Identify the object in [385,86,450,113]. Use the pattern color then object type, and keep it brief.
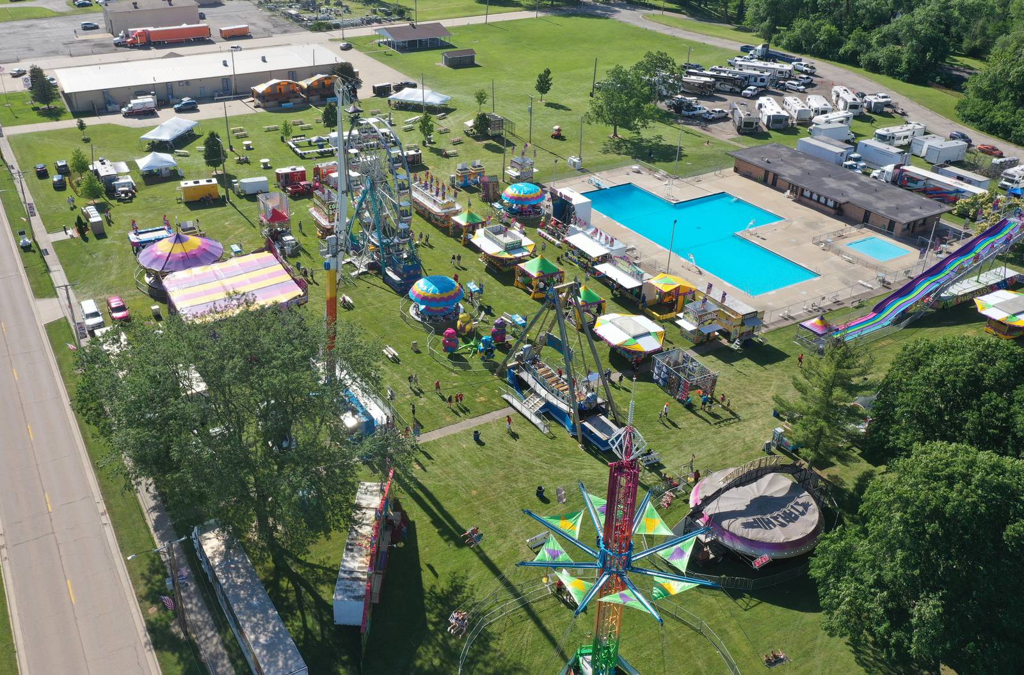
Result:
white tent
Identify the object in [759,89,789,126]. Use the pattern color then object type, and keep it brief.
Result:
white vehicle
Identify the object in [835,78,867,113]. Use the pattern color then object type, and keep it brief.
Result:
white vehicle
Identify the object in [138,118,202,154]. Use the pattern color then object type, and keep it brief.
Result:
white tent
